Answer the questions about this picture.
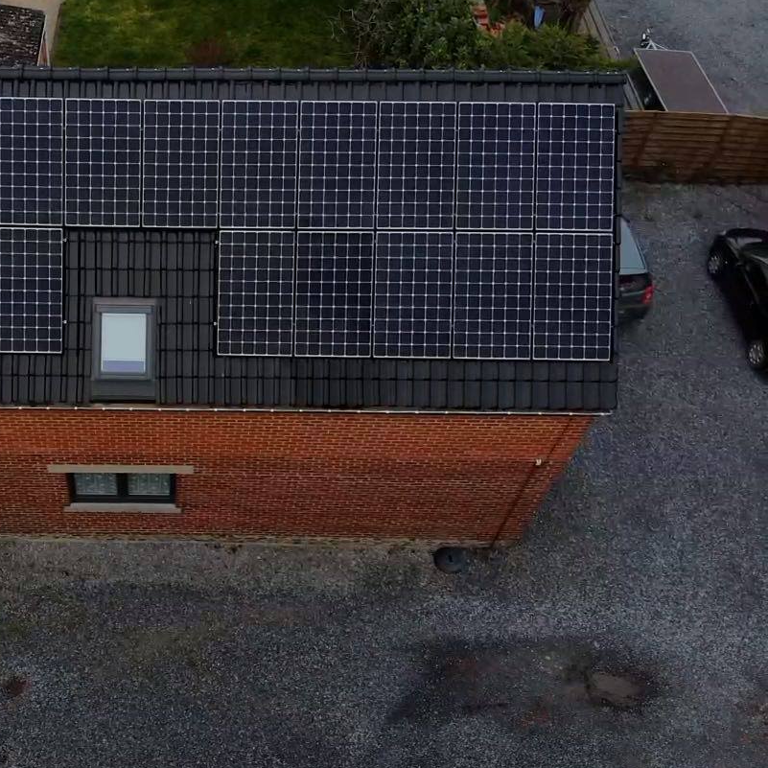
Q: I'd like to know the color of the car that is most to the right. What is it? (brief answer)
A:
black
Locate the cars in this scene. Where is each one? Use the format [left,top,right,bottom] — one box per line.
[617,207,657,325]
[709,234,768,373]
